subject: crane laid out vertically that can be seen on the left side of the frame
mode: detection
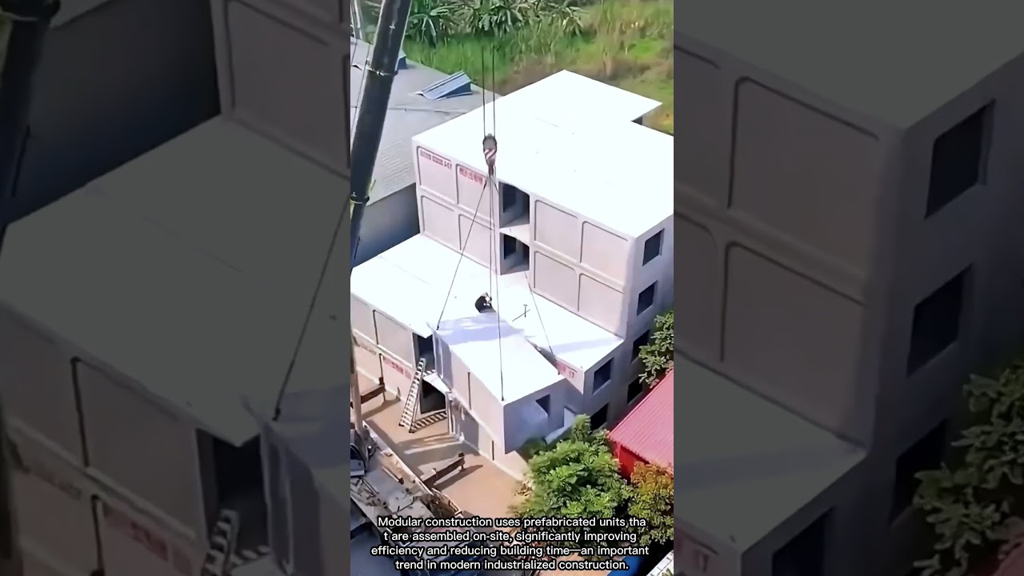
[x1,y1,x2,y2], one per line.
[260,0,476,576]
